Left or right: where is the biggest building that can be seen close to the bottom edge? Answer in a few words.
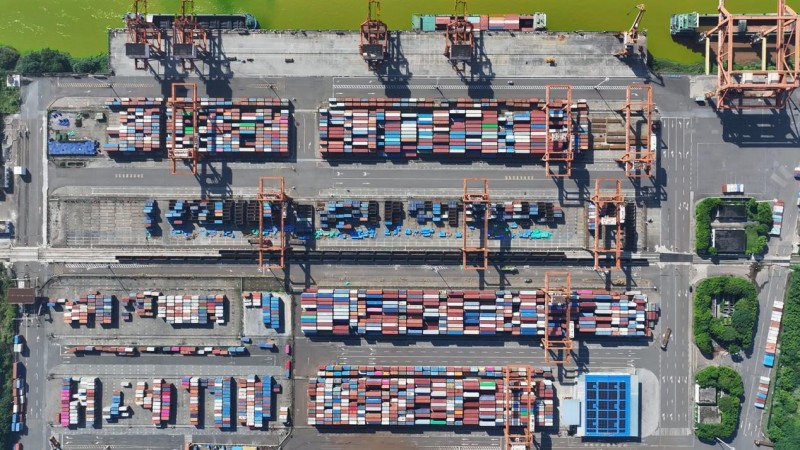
right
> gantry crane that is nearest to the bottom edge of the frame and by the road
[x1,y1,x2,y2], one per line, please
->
[497,366,536,450]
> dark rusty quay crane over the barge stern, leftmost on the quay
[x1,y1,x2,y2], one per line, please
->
[122,0,170,71]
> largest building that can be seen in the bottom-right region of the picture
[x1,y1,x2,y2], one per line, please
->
[576,372,640,436]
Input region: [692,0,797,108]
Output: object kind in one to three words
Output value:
crane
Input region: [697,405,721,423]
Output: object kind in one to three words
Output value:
shed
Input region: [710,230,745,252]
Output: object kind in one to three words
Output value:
building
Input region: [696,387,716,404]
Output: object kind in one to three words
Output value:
shed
